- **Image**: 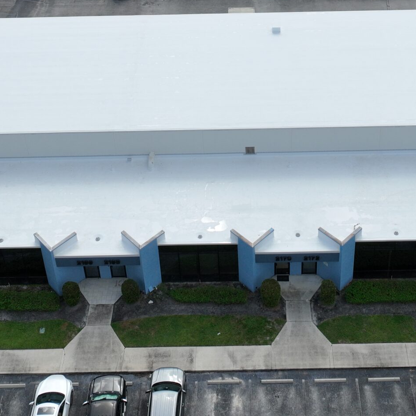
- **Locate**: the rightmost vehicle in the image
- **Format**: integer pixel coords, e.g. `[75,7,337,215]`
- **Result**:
[144,368,187,416]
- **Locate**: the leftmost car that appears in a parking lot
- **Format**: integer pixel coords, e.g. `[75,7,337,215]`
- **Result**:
[29,374,70,416]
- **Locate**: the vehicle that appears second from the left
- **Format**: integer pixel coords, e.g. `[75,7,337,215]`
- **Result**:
[84,375,127,416]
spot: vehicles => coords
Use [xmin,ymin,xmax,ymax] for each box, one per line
[29,374,70,416]
[144,368,187,416]
[84,375,127,416]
